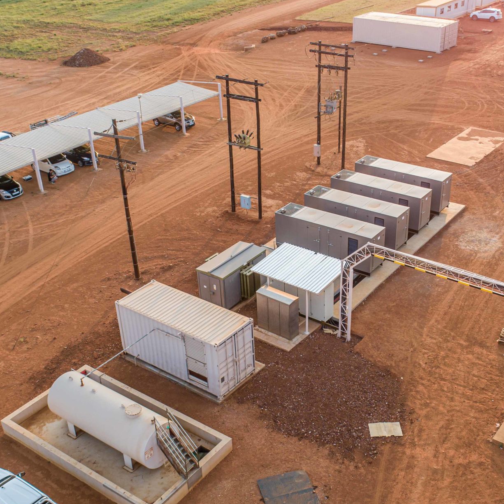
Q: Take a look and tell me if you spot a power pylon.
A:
Yes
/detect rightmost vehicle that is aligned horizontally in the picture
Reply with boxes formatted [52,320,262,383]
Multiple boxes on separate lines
[470,7,503,22]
